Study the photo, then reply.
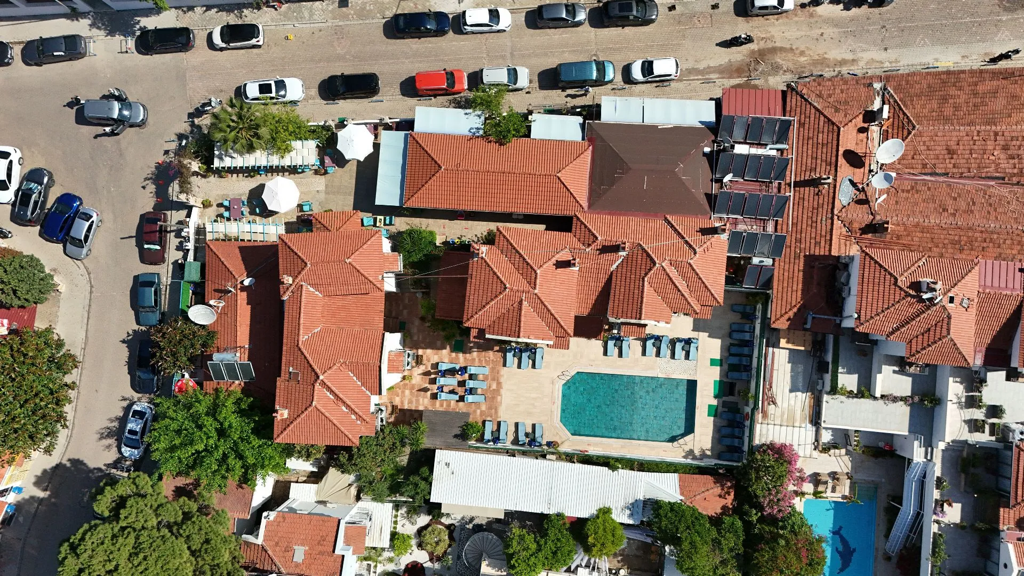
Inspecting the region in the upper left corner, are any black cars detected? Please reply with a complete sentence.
Yes, in the upper left corner there is a black car.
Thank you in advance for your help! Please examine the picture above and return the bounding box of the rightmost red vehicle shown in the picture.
[414,68,467,97]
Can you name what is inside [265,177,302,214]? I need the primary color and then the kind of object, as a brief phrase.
white umbrella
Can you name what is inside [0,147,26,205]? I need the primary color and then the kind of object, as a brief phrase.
white car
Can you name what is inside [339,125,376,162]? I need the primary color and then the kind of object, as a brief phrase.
white umbrella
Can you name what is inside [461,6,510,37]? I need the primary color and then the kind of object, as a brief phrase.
white car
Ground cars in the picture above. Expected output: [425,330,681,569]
[241,76,306,106]
[414,68,467,97]
[744,0,792,20]
[25,36,91,68]
[325,71,380,100]
[135,274,166,325]
[536,1,585,32]
[66,208,106,260]
[139,27,198,56]
[213,23,266,52]
[628,56,680,85]
[477,65,528,93]
[0,43,20,68]
[557,57,614,89]
[79,88,150,139]
[140,213,173,263]
[461,6,510,37]
[132,341,163,392]
[12,168,58,226]
[395,10,450,42]
[0,147,26,205]
[601,0,657,30]
[40,192,87,244]
[121,402,157,458]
